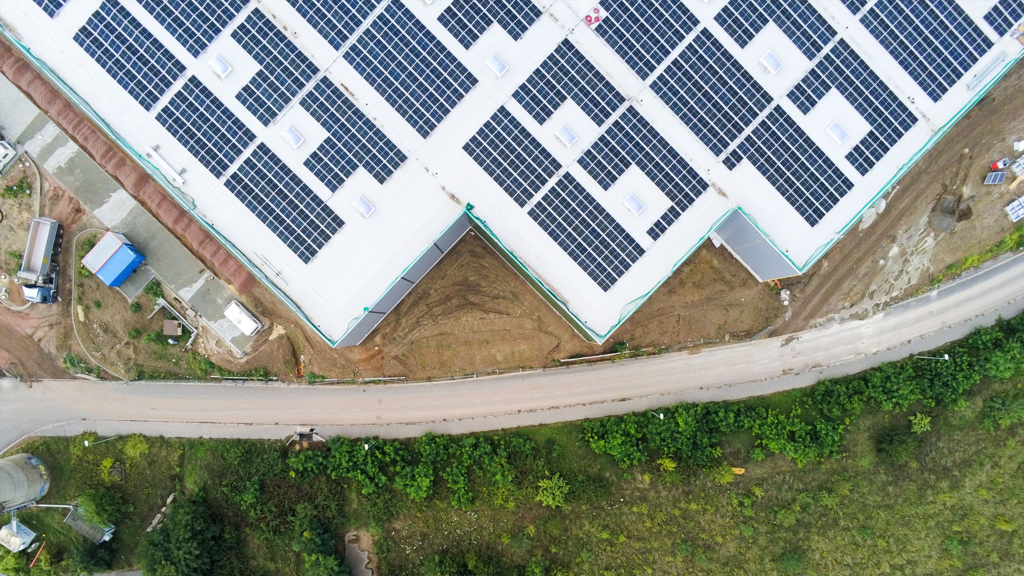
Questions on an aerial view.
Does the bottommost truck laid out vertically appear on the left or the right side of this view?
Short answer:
left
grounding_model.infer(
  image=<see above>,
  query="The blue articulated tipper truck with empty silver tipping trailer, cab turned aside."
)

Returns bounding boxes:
[18,218,63,304]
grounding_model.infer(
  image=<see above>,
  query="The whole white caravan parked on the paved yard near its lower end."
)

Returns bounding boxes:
[226,303,262,336]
